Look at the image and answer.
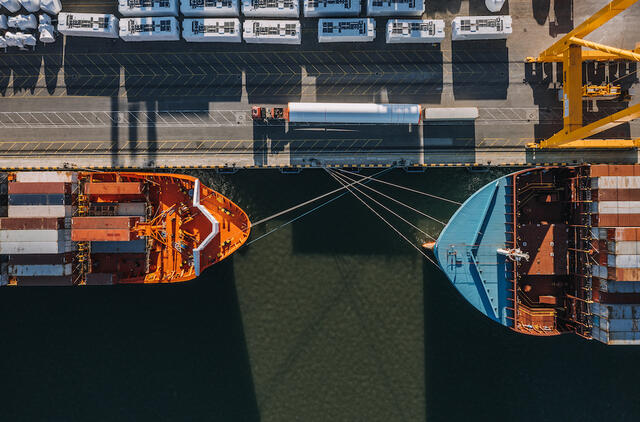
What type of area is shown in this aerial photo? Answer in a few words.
port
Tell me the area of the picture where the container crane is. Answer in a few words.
top right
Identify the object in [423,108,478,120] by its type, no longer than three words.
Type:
vehicle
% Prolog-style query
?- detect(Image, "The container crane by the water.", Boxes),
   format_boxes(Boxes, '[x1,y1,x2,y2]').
[519,0,640,150]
